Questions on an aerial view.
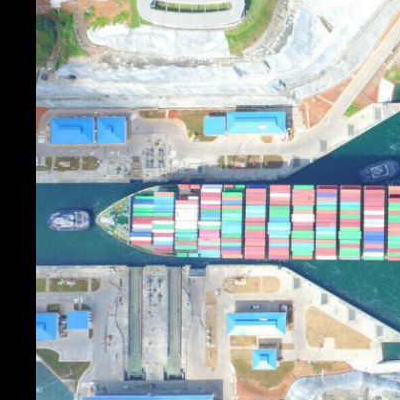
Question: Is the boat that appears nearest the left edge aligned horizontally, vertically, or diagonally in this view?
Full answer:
The boat that appears nearest the left edge is oriented horizontally.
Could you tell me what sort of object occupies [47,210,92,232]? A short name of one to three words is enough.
boat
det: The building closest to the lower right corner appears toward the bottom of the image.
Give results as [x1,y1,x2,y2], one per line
[253,349,277,370]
